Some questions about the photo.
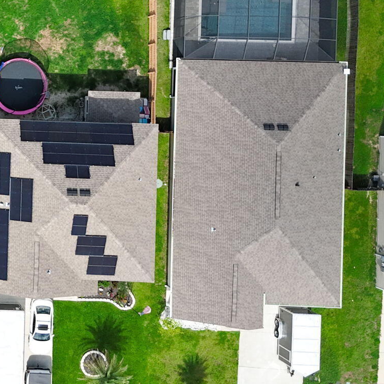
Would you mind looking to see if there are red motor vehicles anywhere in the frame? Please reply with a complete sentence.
No, the scene contains no red motor vehicle.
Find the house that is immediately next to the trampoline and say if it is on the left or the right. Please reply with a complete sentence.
You can find the house that is immediately next to the trampoline on the left side of the picture.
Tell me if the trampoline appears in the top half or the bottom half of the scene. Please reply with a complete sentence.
The trampoline sits in the top half of the picture.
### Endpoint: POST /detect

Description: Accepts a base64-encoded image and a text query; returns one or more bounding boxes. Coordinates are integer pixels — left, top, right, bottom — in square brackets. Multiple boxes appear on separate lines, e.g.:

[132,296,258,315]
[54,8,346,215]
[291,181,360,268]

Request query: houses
[159,57,351,328]
[375,137,384,291]
[0,91,159,301]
